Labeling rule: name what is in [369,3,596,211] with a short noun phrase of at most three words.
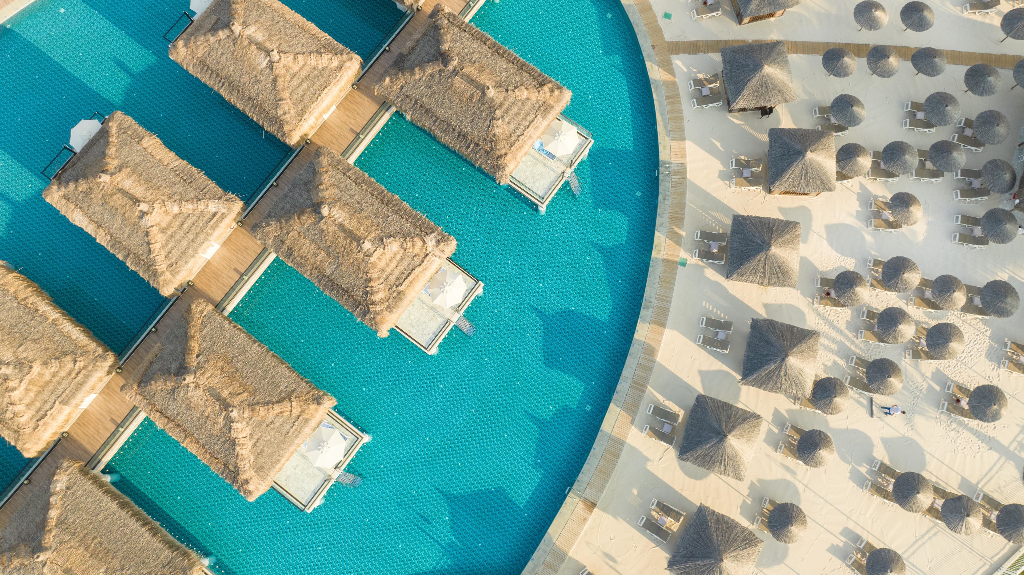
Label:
house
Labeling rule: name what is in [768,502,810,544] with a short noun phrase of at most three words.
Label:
umbrella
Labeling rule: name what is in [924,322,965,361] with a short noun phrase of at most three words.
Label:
umbrella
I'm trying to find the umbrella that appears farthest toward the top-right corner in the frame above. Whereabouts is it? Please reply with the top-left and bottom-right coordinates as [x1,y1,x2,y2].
[1001,5,1024,38]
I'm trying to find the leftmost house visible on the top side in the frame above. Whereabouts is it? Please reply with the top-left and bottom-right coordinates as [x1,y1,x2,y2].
[43,110,252,301]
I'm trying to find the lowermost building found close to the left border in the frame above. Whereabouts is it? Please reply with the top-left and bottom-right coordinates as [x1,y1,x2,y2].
[0,449,221,575]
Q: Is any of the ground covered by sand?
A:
Yes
